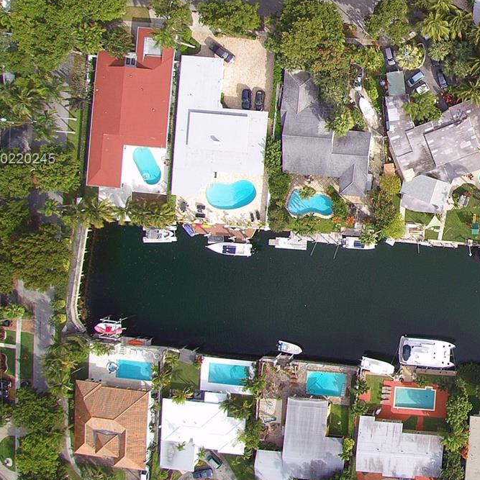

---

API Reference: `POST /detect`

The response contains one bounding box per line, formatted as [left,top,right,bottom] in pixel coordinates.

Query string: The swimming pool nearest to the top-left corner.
[130,146,162,185]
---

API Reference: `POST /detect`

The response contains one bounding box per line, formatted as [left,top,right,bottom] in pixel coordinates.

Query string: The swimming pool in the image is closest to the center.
[205,179,256,210]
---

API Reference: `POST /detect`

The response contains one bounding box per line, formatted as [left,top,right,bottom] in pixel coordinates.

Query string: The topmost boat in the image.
[361,88,380,123]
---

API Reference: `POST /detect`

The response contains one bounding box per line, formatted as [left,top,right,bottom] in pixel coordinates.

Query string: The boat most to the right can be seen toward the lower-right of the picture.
[398,335,454,370]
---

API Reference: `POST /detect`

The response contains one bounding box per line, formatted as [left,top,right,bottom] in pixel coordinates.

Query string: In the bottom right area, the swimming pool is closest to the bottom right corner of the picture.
[392,386,436,411]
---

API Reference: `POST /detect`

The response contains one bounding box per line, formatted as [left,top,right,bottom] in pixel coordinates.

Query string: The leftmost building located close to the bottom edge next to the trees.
[74,377,157,471]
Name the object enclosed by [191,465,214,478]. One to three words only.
vehicle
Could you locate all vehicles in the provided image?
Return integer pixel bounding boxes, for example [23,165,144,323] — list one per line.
[239,88,252,110]
[253,89,264,110]
[191,465,214,478]
[436,72,449,90]
[405,70,427,89]
[413,82,432,96]
[209,40,234,62]
[384,45,396,69]
[138,464,151,480]
[203,449,224,471]
[0,319,20,329]
[0,380,12,391]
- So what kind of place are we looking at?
residential area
